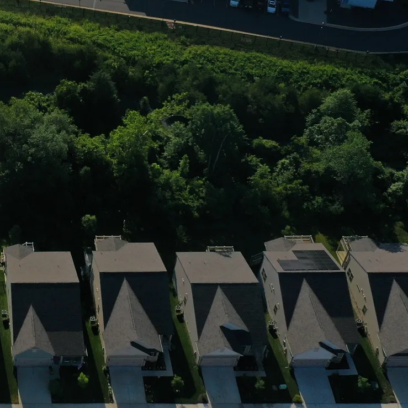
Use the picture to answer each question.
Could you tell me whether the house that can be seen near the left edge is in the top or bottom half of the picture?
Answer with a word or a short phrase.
bottom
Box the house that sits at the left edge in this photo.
[6,235,83,368]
